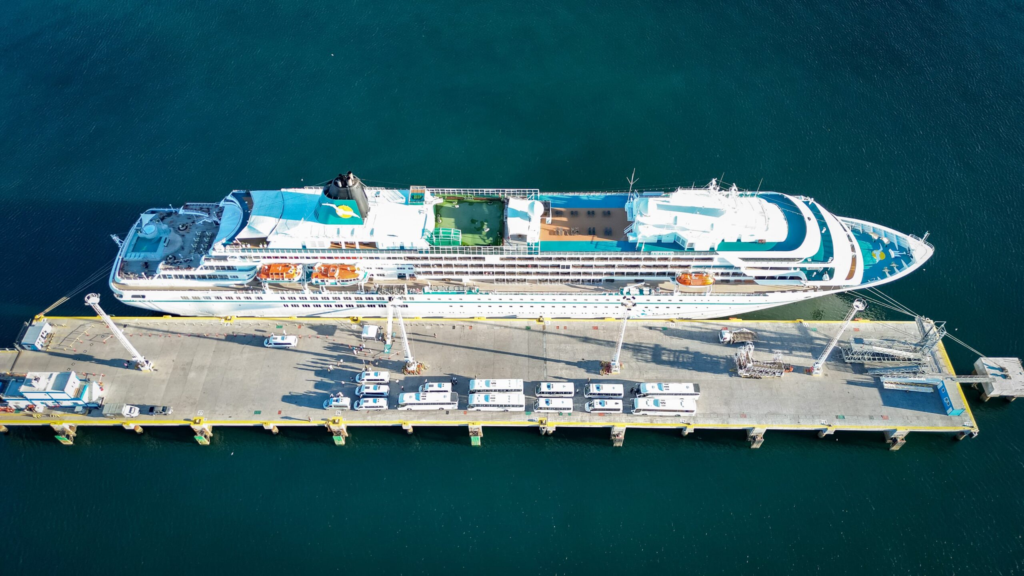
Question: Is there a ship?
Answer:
Yes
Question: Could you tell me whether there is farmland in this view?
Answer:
No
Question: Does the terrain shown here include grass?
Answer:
No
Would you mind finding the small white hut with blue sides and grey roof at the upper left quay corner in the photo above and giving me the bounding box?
[17,320,51,350]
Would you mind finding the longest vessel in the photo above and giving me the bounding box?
[109,168,936,320]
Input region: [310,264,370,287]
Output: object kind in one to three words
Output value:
boat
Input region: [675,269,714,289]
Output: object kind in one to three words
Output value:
boat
